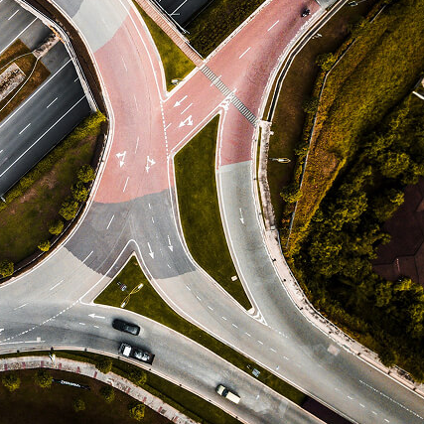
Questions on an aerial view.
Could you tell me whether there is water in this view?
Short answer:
No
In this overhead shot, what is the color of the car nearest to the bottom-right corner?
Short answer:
white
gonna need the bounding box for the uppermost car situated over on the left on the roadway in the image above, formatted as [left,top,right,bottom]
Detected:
[111,317,140,334]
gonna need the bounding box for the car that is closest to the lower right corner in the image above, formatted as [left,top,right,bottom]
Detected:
[214,384,242,404]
